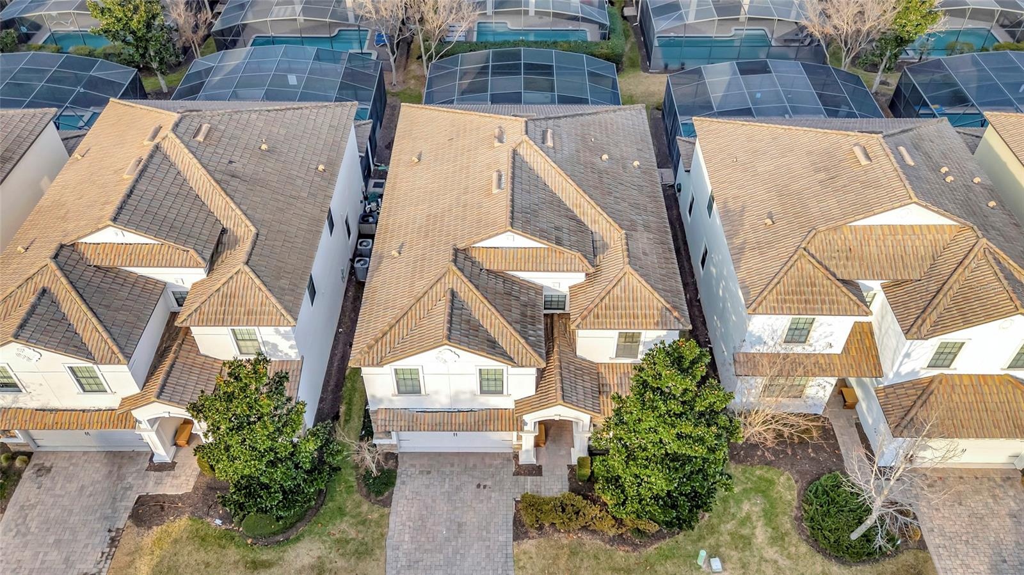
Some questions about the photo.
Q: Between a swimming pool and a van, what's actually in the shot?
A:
swimming pool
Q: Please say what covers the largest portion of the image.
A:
buildings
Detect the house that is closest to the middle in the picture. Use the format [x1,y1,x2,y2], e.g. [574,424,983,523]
[348,102,693,464]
